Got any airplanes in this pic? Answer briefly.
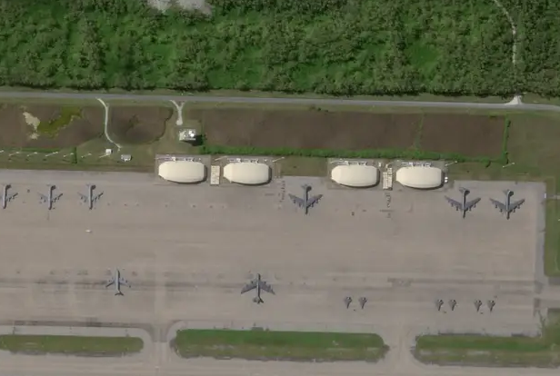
Yes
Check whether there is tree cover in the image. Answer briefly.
Yes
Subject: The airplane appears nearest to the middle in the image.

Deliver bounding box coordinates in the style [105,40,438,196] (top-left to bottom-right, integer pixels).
[289,183,324,213]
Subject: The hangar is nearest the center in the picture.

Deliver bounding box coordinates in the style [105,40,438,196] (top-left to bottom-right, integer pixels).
[224,163,269,185]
